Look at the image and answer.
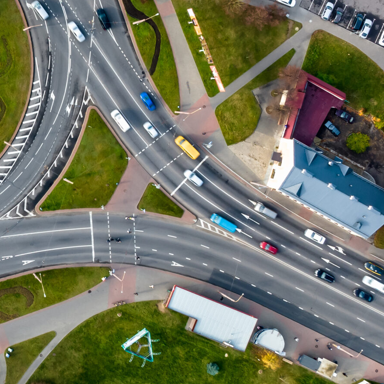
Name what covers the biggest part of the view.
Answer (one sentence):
The bulk of the photo consists of paved ground.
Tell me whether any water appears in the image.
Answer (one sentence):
No, water can't be seen anywhere here.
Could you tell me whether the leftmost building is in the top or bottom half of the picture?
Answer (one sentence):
The leftmost building is in the bottom half of the image.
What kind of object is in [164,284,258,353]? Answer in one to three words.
building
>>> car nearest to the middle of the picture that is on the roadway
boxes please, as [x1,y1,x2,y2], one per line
[183,169,205,188]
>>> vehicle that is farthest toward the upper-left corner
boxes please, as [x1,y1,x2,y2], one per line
[30,0,49,22]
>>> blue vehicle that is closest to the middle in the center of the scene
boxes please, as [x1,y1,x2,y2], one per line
[208,213,239,235]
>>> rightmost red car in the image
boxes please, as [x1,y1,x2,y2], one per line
[259,241,279,256]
